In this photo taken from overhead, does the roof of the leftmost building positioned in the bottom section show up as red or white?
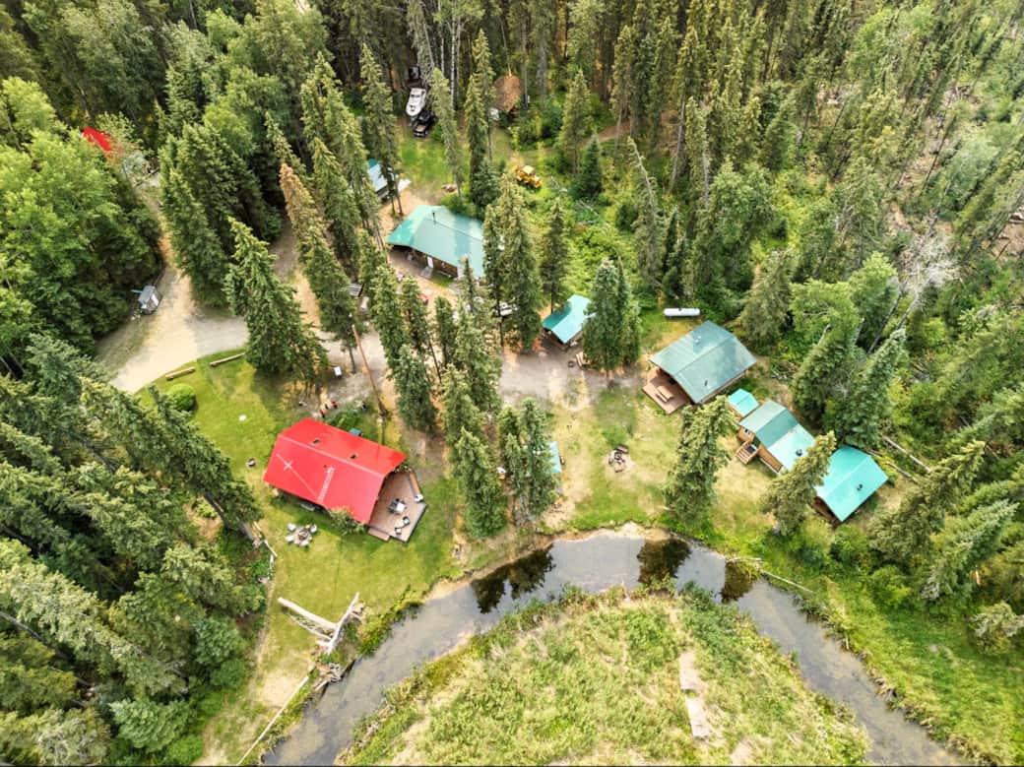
red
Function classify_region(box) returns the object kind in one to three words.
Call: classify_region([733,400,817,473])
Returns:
building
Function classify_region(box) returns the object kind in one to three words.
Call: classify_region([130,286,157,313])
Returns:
shed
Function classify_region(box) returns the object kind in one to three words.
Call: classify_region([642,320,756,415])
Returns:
building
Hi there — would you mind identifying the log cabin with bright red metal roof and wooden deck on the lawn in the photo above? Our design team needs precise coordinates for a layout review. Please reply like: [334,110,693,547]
[265,418,428,543]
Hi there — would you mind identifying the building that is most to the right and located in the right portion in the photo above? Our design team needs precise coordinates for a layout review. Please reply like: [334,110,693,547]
[812,447,888,532]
